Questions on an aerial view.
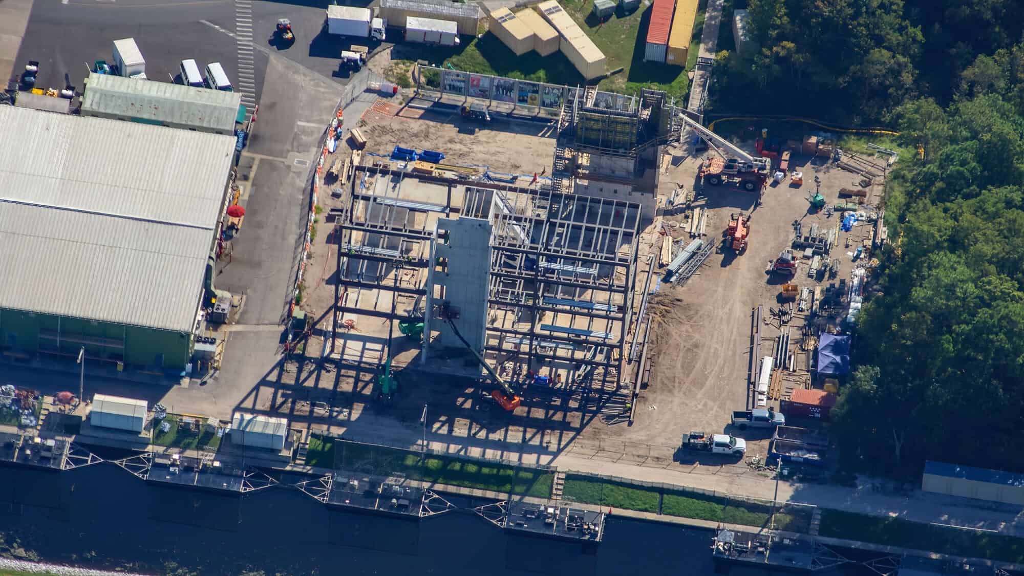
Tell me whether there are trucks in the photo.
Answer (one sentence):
Yes, there's a truck down there.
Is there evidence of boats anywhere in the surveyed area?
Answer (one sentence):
No, no boat is visible in the scene.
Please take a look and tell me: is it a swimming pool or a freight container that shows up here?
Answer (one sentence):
I can see a freight container in this picture.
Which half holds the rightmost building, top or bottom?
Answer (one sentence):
The bottom half of the photo is where the rightmost building is.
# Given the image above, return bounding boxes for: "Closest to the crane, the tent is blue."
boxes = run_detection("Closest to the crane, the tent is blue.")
[815,334,851,392]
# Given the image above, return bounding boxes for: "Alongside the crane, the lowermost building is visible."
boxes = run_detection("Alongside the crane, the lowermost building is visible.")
[330,165,647,393]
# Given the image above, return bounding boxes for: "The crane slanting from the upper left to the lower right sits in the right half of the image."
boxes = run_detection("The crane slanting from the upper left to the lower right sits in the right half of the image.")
[671,109,777,204]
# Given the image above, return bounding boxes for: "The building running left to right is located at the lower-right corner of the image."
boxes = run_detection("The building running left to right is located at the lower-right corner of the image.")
[919,456,1024,508]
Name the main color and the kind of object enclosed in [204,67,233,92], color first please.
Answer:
white vehicle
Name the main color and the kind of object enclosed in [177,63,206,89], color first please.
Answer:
white vehicle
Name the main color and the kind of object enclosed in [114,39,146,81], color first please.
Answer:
white truck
